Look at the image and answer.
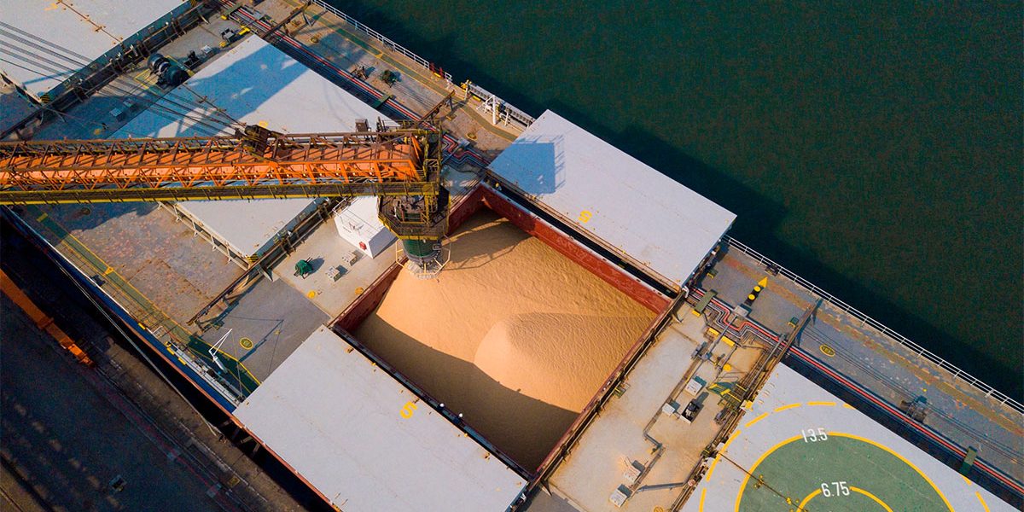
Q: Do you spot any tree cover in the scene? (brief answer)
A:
No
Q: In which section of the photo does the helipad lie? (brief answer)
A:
bottom right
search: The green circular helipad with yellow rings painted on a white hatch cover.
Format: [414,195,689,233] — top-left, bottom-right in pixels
[700,402,986,512]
